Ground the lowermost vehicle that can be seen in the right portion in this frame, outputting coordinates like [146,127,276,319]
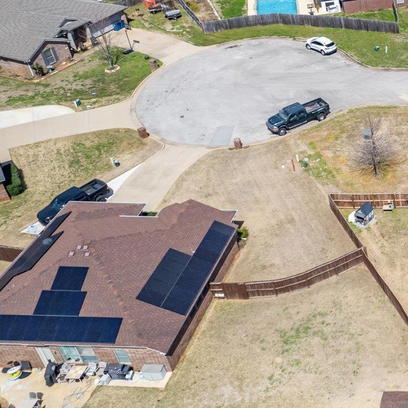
[269,102,326,133]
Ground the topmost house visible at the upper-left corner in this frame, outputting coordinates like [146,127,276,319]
[0,0,130,80]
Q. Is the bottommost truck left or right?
left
